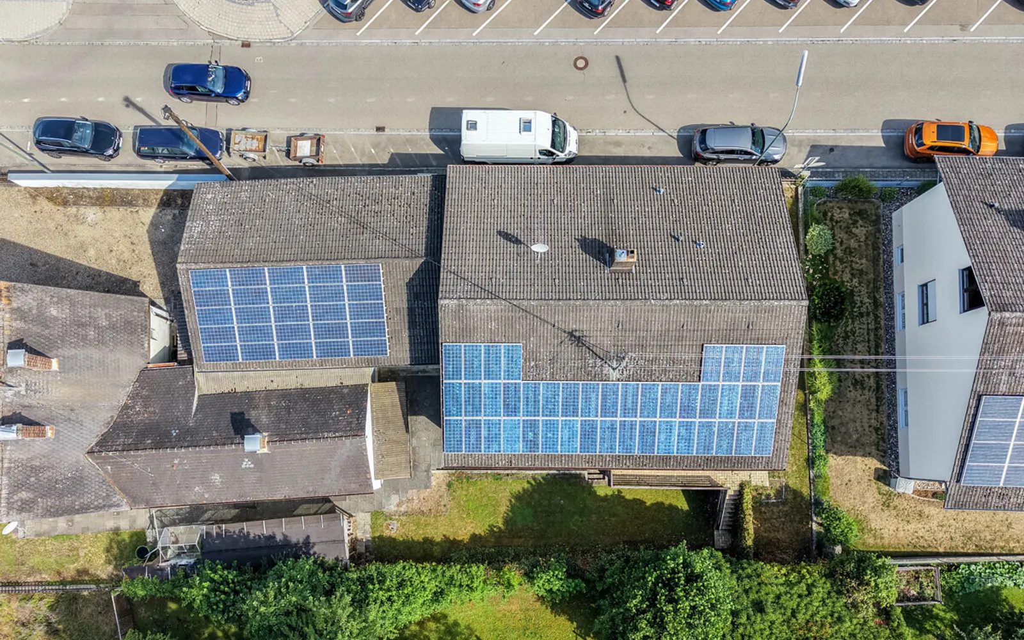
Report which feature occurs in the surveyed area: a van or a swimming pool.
van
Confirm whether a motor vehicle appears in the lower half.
No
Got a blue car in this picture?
Yes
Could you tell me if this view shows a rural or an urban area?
urban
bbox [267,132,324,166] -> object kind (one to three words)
trailer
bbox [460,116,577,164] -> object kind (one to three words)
van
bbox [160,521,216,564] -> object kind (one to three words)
greenhouse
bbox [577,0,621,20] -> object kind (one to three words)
car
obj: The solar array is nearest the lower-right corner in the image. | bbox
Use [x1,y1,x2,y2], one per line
[961,392,1024,484]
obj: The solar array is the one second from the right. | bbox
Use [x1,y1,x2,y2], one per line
[442,347,784,455]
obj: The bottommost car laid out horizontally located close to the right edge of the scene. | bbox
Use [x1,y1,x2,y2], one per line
[903,118,995,161]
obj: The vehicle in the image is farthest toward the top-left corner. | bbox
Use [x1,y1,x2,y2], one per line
[30,117,127,163]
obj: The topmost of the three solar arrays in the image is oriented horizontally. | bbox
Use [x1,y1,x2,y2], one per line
[192,264,391,362]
